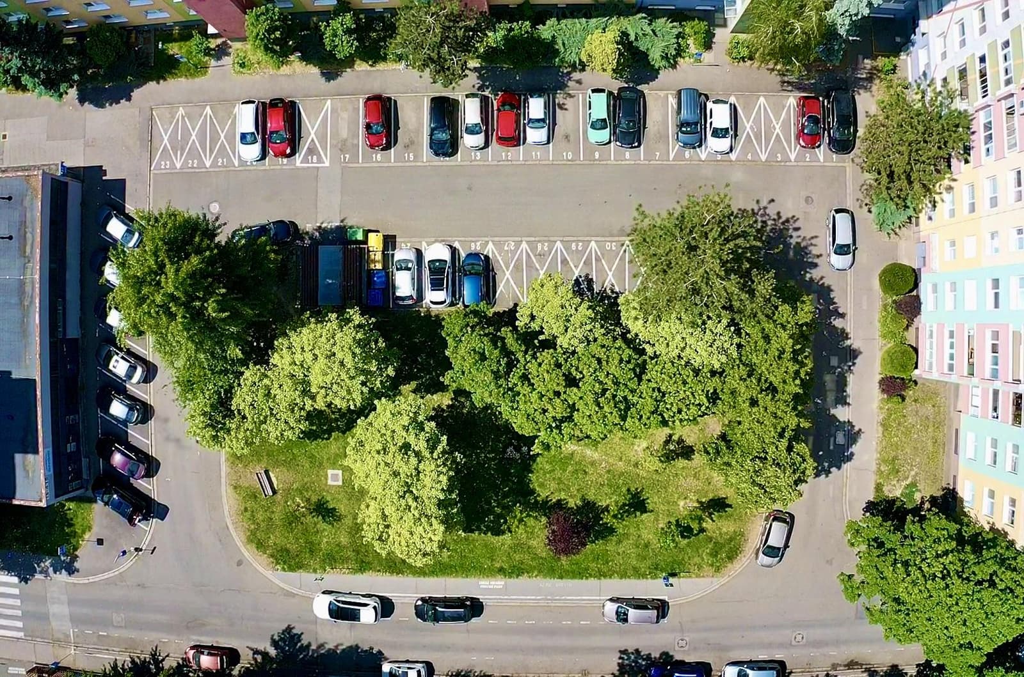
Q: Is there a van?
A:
Yes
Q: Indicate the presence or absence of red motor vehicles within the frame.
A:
Yes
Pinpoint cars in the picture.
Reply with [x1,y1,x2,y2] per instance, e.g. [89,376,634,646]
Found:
[92,476,154,525]
[706,100,735,154]
[238,217,300,246]
[428,97,457,157]
[235,101,266,161]
[379,655,434,677]
[97,344,154,385]
[415,595,471,627]
[461,253,489,306]
[795,96,824,149]
[98,388,152,428]
[756,508,792,567]
[825,91,858,154]
[615,88,644,148]
[101,440,156,482]
[460,95,488,150]
[493,94,521,147]
[362,96,391,151]
[181,642,235,673]
[390,248,418,304]
[719,659,781,677]
[424,245,454,306]
[265,99,295,157]
[95,296,142,339]
[315,591,381,624]
[586,89,614,146]
[95,206,149,249]
[524,95,551,146]
[603,596,661,626]
[92,251,141,293]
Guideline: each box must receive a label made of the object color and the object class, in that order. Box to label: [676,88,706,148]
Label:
blue van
